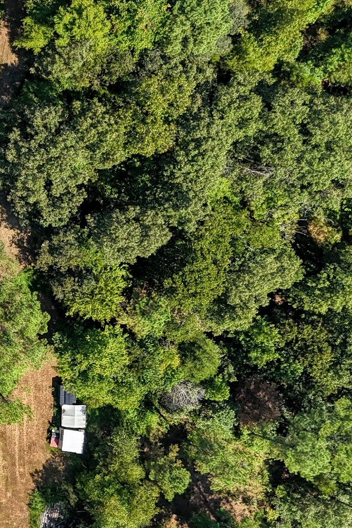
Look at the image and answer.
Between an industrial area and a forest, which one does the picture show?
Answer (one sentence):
This looks like a forest.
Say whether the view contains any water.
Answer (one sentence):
No, the scene doesn't show any water.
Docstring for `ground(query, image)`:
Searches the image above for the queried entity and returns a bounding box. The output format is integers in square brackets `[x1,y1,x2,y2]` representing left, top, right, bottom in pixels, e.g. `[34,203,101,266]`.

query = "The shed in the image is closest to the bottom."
[56,426,85,455]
